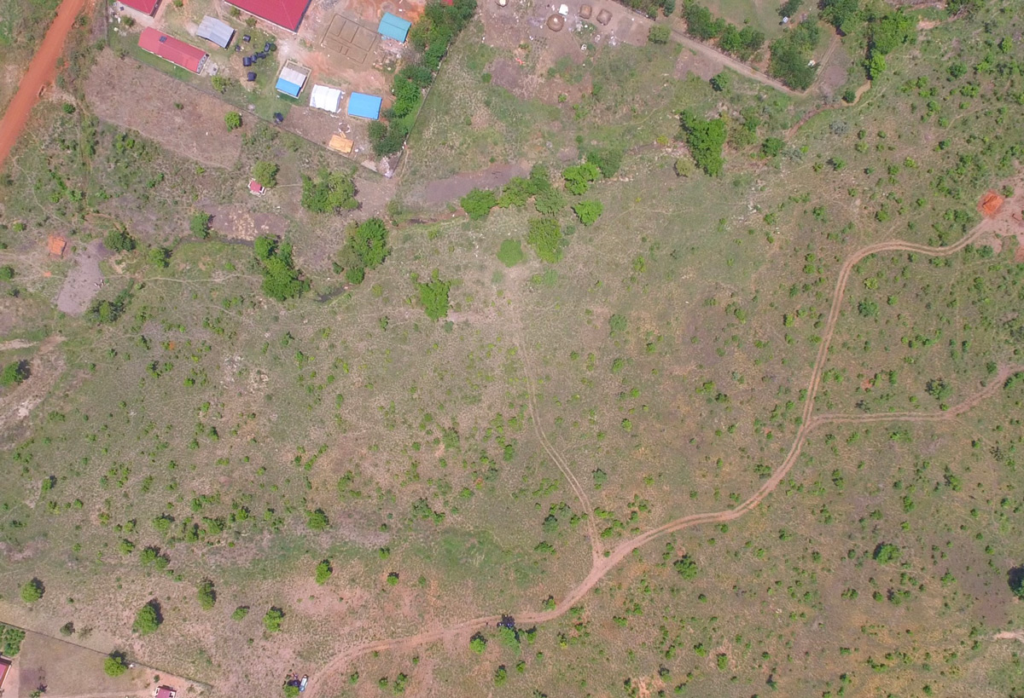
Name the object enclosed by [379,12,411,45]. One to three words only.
shed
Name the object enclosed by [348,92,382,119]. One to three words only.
shed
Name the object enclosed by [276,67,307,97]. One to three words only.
house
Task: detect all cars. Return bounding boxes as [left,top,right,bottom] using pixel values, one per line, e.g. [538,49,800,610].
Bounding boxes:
[299,674,309,692]
[287,679,302,688]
